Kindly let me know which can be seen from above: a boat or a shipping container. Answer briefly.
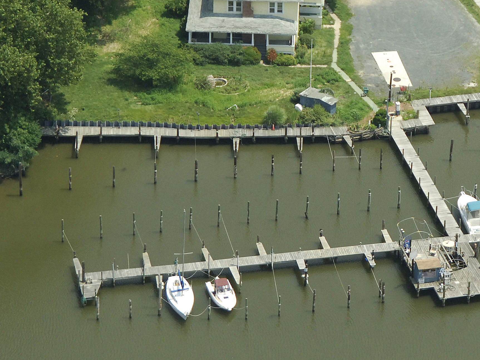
boat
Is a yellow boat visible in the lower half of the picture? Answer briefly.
No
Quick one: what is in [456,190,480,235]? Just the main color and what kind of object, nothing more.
white boat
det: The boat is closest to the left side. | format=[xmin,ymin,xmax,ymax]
[163,207,192,322]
